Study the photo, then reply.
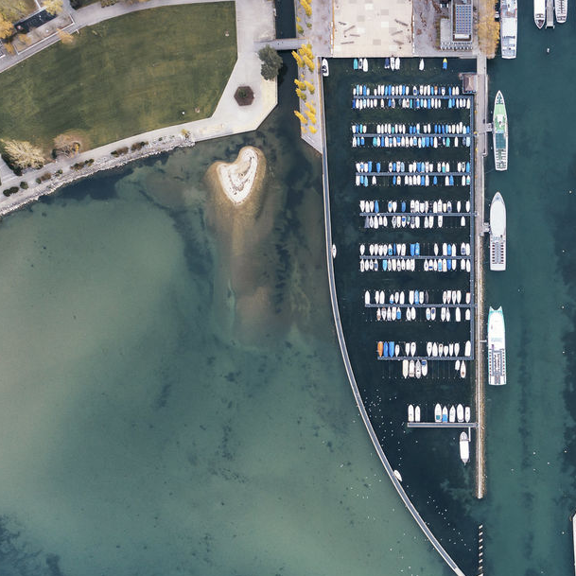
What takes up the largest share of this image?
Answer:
water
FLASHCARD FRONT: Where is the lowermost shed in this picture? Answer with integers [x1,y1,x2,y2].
[459,72,475,94]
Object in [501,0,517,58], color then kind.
white ship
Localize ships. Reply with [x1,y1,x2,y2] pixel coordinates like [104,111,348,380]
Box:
[494,91,508,170]
[491,192,506,270]
[488,306,506,386]
[555,0,567,22]
[501,0,517,58]
[534,0,545,29]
